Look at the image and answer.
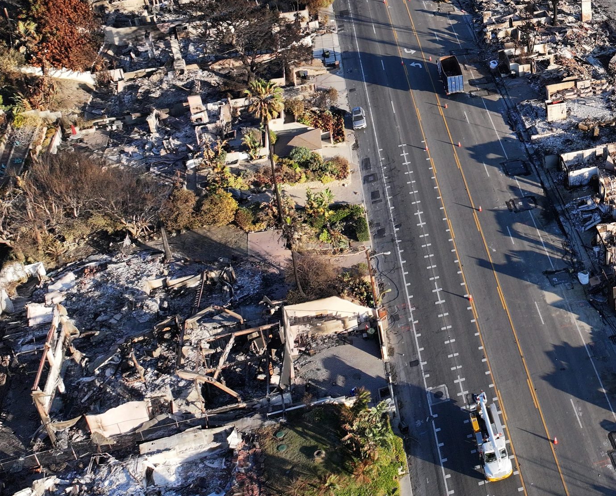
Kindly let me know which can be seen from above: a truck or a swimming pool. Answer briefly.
truck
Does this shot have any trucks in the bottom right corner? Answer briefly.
Yes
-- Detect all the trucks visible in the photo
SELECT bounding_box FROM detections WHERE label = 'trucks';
[459,373,509,478]
[434,50,463,93]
